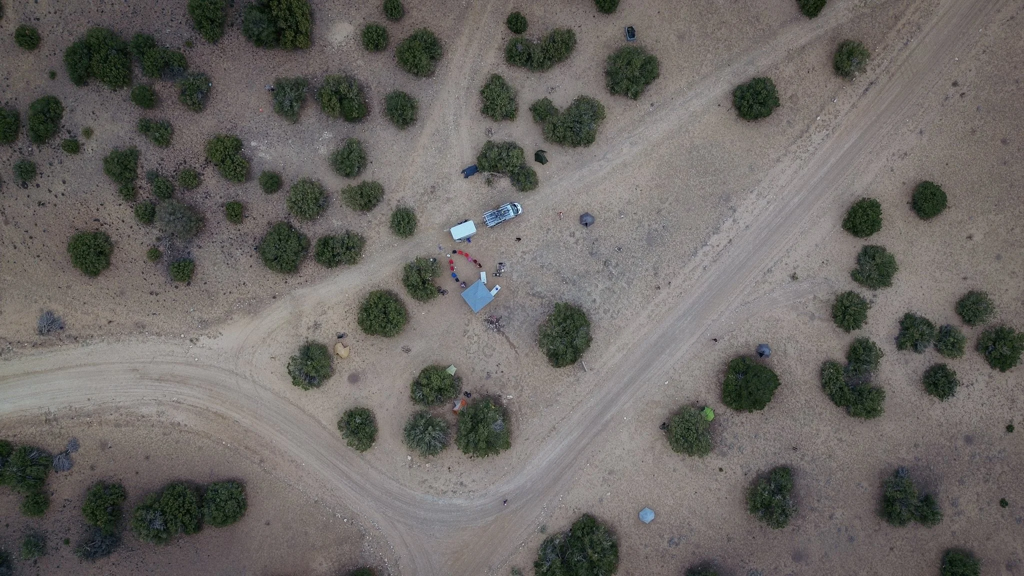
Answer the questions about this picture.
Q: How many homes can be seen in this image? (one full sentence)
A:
There are no homes in the image.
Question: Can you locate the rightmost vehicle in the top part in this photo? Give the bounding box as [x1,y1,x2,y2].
[483,201,523,228]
